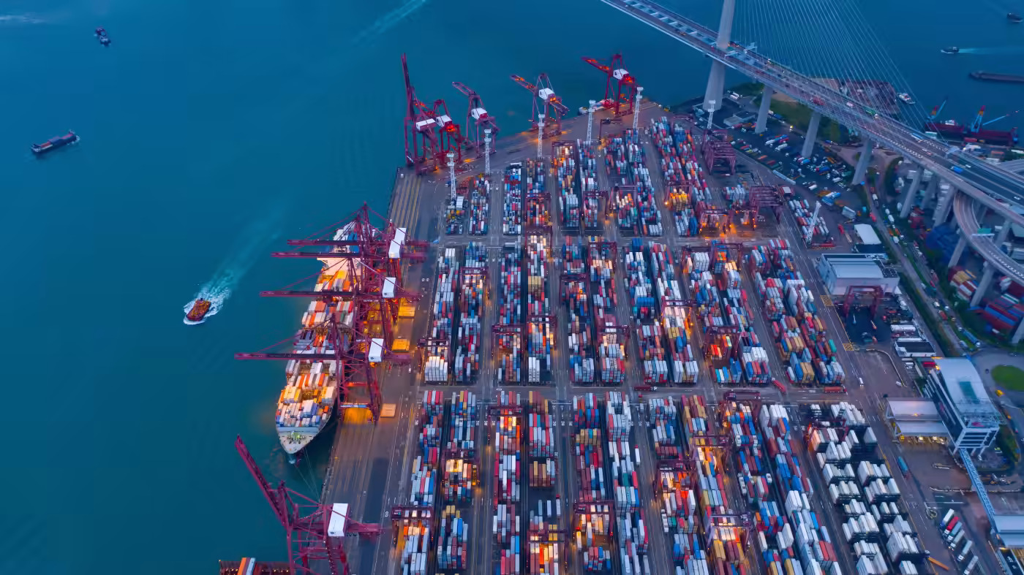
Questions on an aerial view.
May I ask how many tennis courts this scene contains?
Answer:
0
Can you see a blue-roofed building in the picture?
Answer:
Yes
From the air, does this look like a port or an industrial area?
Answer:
port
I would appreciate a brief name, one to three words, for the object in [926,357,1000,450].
building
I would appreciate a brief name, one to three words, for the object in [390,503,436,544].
container crane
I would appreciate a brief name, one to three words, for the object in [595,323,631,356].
container crane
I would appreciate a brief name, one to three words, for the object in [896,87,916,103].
vessel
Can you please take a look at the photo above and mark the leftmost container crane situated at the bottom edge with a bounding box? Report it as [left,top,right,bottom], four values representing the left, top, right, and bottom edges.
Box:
[233,437,377,575]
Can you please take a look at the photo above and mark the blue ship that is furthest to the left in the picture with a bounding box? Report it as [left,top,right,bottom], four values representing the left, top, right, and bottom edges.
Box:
[30,127,81,151]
